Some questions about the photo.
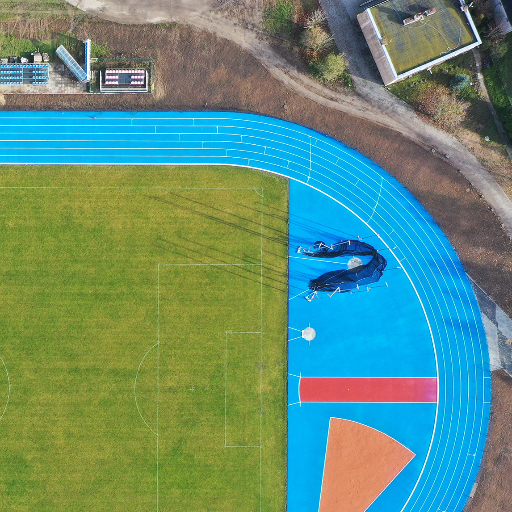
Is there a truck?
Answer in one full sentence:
No, no truck can be seen from above.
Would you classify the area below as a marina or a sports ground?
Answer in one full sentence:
What you see here is a sports ground.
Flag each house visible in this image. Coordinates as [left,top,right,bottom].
[352,0,483,86]
[490,0,512,34]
